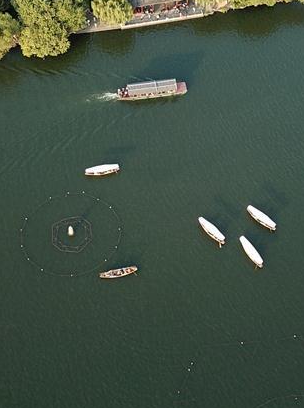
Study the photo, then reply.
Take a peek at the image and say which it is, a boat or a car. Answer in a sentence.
Looking from above, you can make out a boat.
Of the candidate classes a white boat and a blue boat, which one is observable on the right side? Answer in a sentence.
The feature located on the right side is a white boat.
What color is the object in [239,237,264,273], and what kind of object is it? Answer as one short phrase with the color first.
white boat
